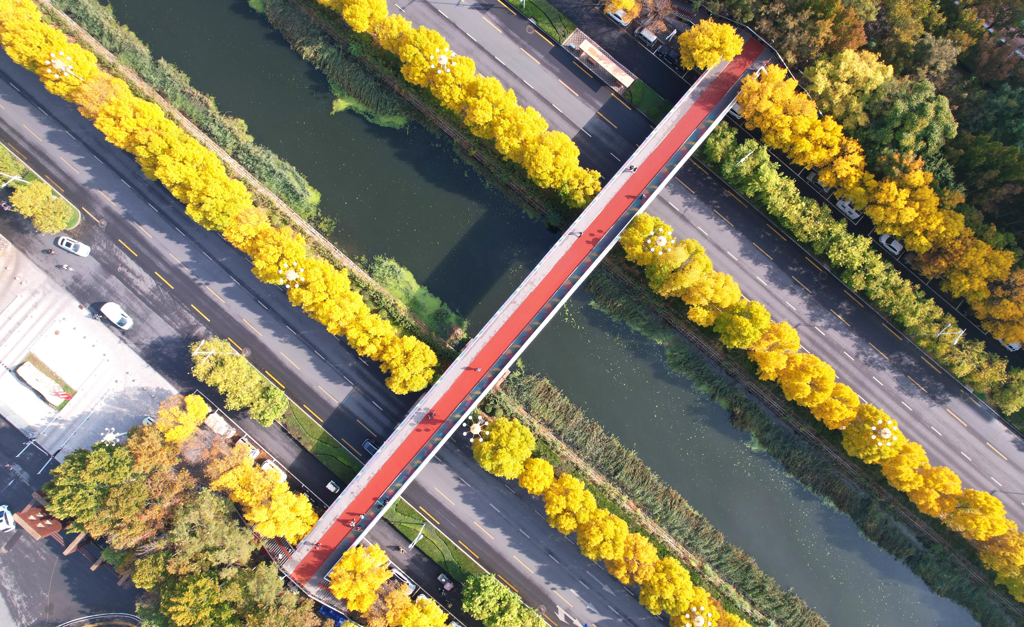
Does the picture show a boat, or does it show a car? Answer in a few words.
car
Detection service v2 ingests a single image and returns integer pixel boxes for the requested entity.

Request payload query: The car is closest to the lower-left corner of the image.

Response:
[0,498,22,537]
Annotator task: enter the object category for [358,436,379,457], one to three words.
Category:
car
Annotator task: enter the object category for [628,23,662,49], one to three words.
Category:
vehicle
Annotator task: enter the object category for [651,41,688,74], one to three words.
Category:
vehicle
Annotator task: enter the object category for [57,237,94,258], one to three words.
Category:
car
